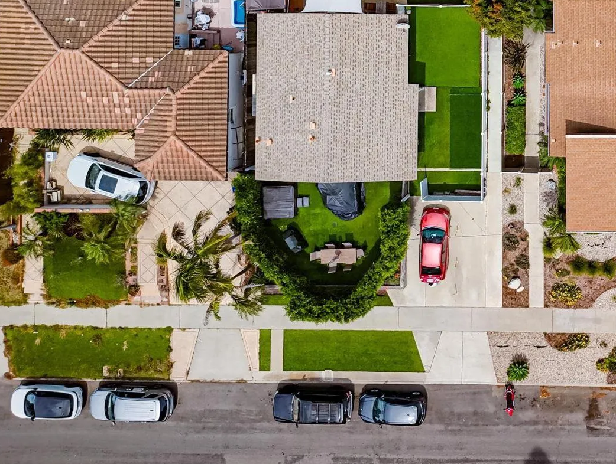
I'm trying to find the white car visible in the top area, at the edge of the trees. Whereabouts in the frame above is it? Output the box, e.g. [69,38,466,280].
[70,153,162,204]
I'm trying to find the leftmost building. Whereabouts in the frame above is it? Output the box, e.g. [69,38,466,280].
[0,0,242,181]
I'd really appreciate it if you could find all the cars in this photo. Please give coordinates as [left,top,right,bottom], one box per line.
[274,388,355,427]
[93,385,176,425]
[13,384,87,421]
[70,153,162,204]
[416,205,452,285]
[359,391,428,430]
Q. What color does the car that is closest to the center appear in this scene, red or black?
red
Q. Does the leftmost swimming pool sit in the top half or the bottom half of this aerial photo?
top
